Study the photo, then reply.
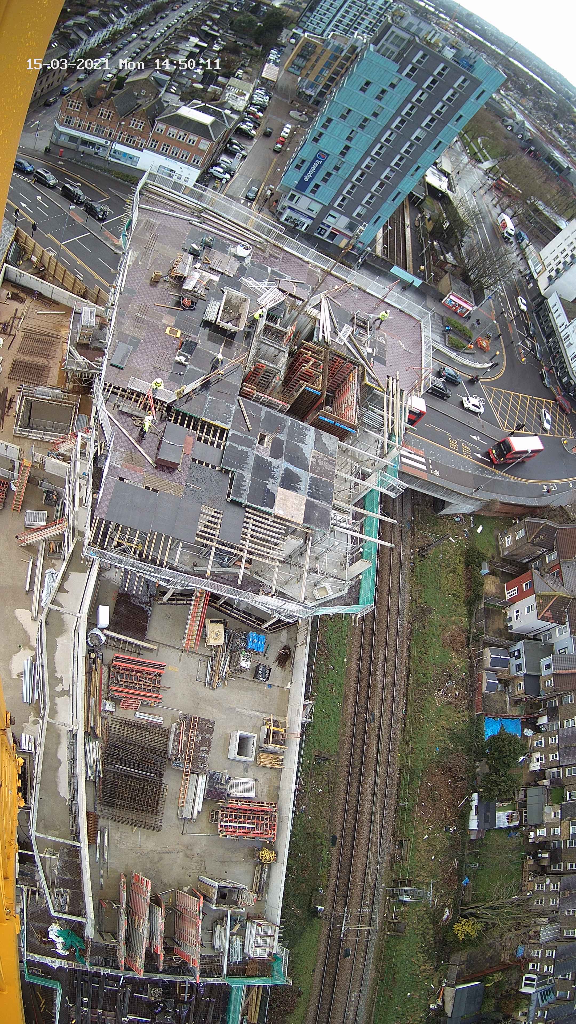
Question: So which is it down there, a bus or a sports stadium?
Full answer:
Looking from above, you can make out a bus.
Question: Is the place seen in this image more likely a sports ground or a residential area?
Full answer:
This image shows a residential area.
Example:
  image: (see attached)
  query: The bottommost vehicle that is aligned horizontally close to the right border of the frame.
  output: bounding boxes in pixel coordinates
[481,435,548,468]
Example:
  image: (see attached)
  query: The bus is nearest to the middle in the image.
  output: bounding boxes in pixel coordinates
[391,391,426,426]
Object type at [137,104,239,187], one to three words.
building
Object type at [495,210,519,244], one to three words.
truck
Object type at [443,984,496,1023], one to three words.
shed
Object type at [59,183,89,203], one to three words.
car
